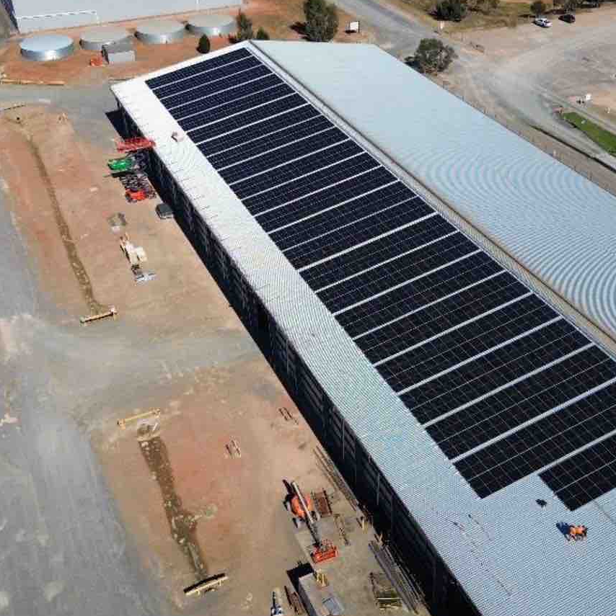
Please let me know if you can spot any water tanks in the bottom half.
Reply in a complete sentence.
No, there is no water tank in the bottom half.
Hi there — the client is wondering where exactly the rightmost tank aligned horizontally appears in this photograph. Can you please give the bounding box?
[188,17,236,38]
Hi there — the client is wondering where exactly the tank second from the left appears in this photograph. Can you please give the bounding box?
[80,28,132,52]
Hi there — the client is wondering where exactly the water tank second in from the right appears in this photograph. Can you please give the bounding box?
[136,21,186,45]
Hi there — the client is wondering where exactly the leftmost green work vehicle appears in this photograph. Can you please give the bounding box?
[93,154,137,177]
